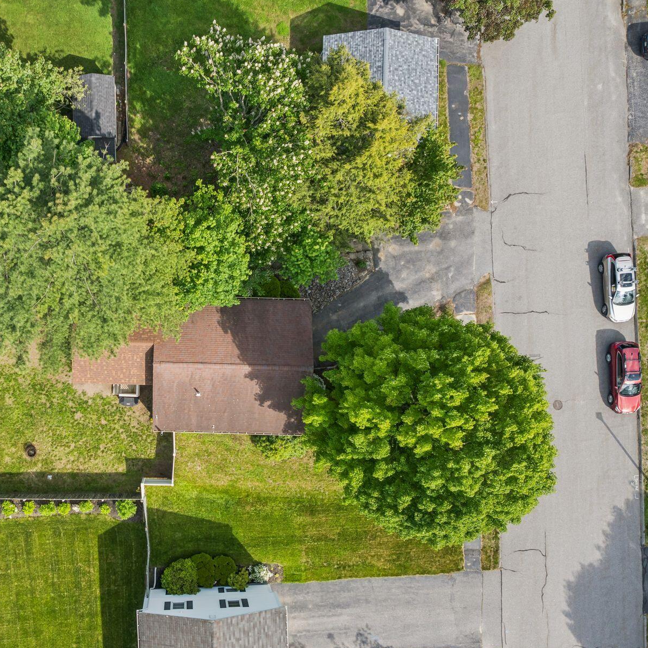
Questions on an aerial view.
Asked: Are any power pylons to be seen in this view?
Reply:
No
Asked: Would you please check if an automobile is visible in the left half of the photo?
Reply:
No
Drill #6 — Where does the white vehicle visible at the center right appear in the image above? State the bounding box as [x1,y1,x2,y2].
[597,252,640,323]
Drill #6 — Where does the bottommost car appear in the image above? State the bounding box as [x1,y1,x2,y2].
[606,341,648,413]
